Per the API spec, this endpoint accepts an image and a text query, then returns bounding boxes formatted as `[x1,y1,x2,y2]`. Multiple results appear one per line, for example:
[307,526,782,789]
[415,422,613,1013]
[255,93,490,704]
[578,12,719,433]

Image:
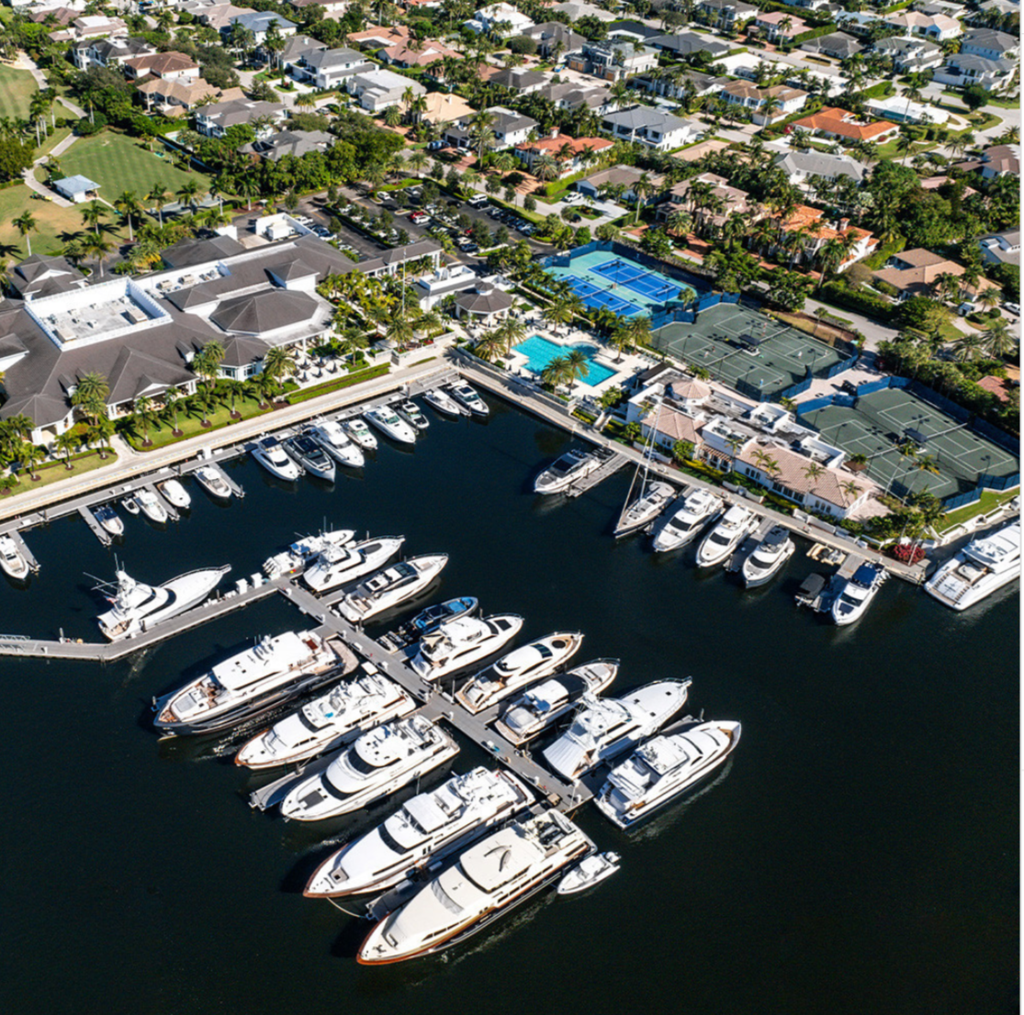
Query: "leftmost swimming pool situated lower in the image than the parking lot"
[516,335,616,385]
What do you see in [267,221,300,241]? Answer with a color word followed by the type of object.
white vehicle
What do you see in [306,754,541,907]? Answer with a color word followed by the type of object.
white boat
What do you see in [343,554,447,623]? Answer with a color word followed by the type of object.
white boat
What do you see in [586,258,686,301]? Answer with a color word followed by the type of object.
blue tennis court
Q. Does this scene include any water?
Yes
